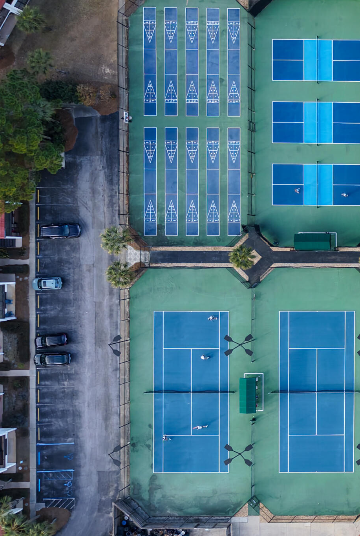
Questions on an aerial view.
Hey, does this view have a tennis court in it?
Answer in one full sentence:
Yes, the photo shows a tennis court.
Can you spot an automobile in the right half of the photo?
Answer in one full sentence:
No, there's no automobile to be seen in the right half of the photo.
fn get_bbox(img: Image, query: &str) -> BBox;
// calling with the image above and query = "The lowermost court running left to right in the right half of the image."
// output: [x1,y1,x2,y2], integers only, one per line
[271,163,360,206]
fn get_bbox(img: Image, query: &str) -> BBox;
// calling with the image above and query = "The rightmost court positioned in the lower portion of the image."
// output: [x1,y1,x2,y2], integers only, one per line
[254,268,360,515]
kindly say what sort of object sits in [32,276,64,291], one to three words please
car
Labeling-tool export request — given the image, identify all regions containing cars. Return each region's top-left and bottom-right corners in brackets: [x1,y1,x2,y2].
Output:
[32,276,64,291]
[41,222,83,238]
[35,331,71,349]
[35,351,74,367]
